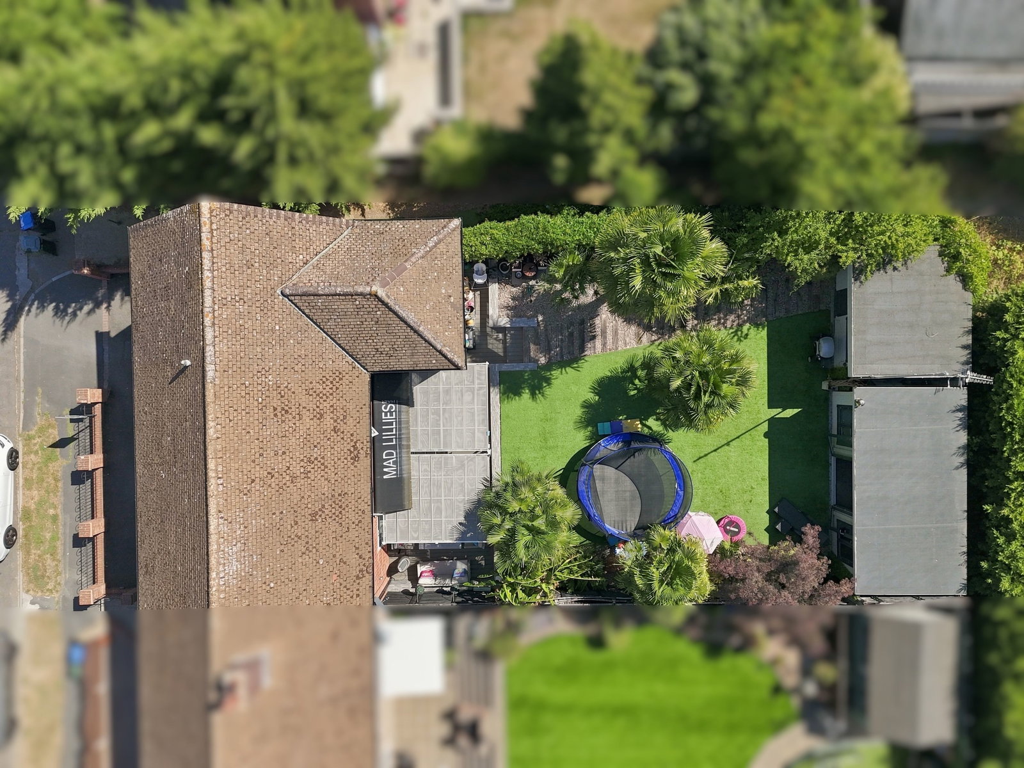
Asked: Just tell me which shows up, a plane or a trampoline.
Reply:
trampoline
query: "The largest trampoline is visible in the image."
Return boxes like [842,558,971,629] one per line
[577,431,691,547]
